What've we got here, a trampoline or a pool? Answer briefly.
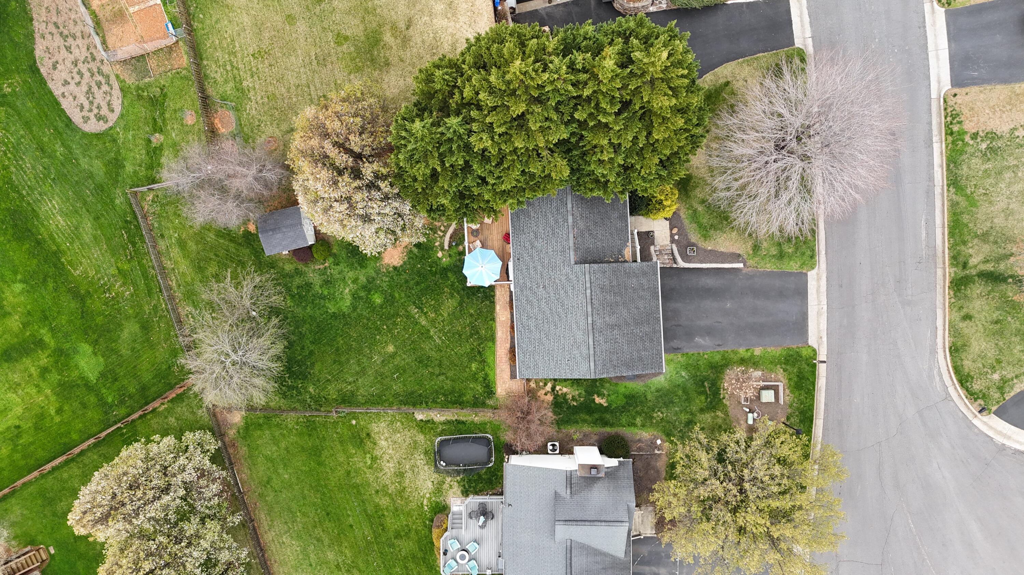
trampoline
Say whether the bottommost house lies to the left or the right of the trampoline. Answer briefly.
to its right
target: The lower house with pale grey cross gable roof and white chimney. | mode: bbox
[499,445,635,575]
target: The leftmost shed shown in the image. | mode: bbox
[257,205,316,255]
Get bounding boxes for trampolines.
[434,433,494,478]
